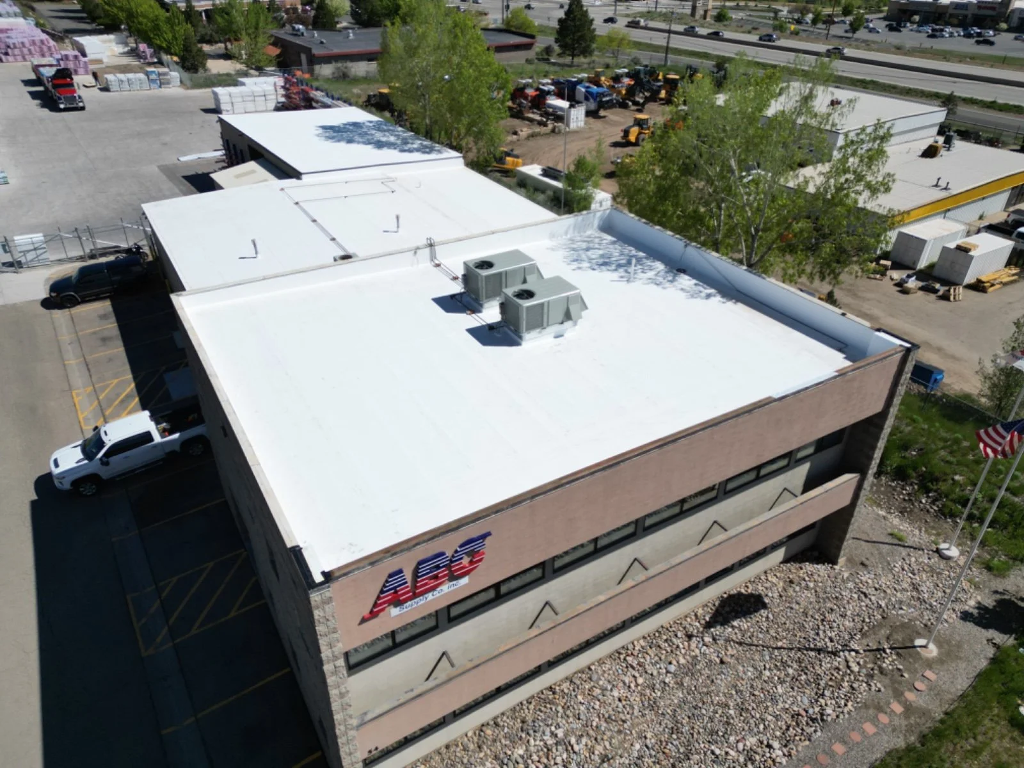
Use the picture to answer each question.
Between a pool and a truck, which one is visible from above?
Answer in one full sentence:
There is a truck in the scene.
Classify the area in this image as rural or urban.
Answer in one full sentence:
It looks urban.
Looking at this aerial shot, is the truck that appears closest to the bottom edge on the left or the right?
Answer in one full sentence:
The truck that appears closest to the bottom edge appears in the left half of the scene.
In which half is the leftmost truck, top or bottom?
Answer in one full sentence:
You can find the leftmost truck in the top half.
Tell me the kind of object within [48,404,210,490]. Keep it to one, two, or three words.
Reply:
truck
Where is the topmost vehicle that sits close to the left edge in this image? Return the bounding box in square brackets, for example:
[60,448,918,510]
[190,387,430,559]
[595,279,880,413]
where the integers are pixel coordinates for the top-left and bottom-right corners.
[41,75,84,109]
